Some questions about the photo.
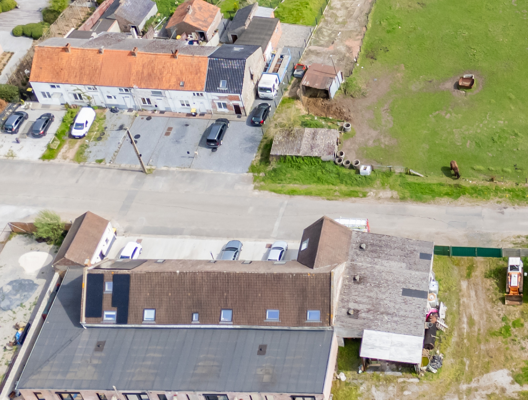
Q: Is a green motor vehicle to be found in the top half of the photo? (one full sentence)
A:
No, the scene shows no green motor vehicle in the top half of the photo.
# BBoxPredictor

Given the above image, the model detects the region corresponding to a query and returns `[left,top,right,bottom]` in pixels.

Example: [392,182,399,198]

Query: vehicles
[258,49,292,95]
[249,99,275,127]
[27,111,57,137]
[504,255,525,305]
[116,234,146,260]
[266,234,291,261]
[0,110,31,134]
[206,118,231,148]
[71,103,96,137]
[219,233,245,261]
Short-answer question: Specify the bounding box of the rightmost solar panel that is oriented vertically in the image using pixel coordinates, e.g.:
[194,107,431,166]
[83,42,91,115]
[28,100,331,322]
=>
[112,275,130,324]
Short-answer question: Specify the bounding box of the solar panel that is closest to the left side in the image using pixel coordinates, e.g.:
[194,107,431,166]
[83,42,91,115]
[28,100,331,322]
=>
[85,275,103,318]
